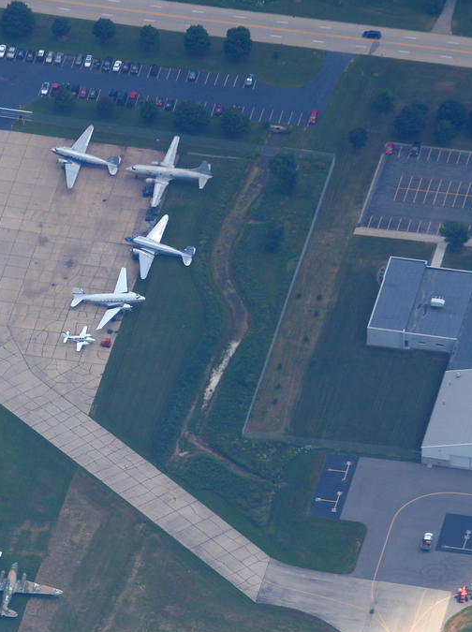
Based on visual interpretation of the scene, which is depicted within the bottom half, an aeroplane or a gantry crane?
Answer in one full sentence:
Looking within the bottom half, you will find an aeroplane.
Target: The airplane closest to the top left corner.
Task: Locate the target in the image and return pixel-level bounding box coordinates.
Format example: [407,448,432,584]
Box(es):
[52,126,120,187]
